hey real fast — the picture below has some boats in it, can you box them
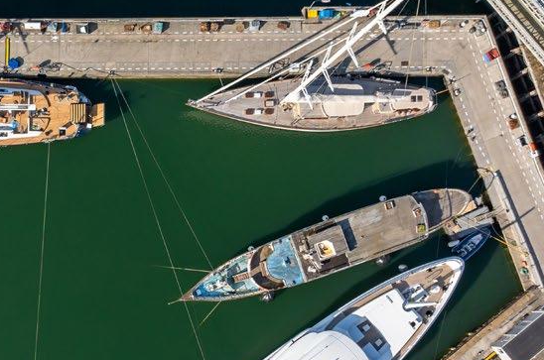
[168,188,474,304]
[188,0,441,133]
[256,257,465,360]
[452,226,491,260]
[0,62,105,149]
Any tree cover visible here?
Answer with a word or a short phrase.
No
